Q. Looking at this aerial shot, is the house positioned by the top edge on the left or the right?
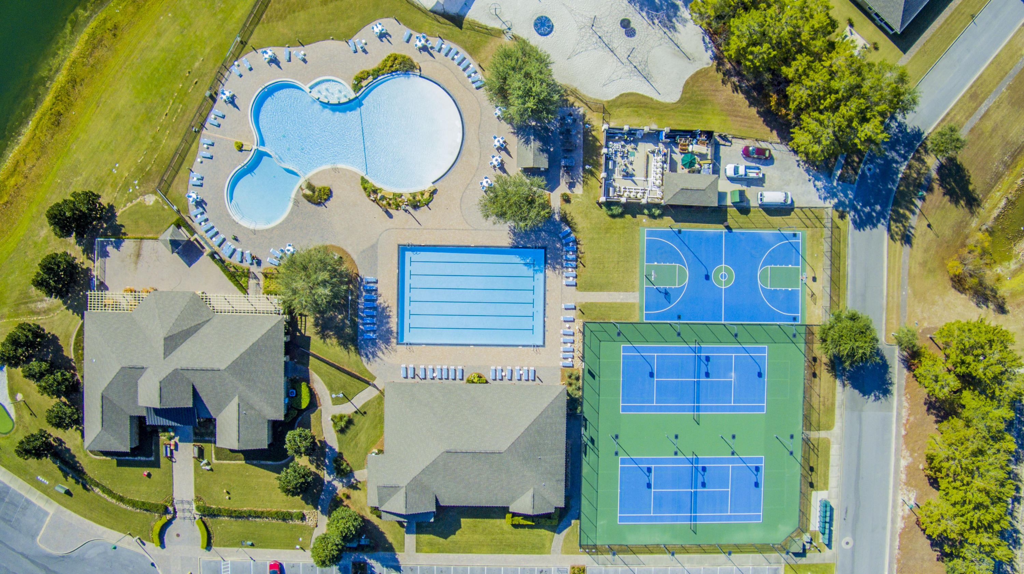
right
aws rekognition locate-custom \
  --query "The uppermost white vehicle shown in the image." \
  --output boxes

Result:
[725,162,765,177]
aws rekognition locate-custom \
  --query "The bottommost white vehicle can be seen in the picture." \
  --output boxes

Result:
[758,190,793,204]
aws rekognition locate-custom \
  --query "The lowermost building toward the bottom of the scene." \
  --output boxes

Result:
[367,381,565,522]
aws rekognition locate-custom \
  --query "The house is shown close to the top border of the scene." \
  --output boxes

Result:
[855,0,930,38]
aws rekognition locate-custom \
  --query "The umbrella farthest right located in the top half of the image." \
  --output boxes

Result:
[681,153,696,169]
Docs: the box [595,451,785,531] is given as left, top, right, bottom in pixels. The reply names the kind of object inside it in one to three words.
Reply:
tennis court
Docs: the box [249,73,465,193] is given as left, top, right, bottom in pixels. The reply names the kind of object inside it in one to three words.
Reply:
swimming pool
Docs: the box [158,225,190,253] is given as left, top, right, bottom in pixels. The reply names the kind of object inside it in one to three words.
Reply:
gazebo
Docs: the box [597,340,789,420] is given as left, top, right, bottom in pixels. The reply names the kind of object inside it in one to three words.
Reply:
tennis court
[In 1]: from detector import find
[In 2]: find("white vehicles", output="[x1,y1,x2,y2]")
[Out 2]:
[758,190,793,204]
[725,162,765,177]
